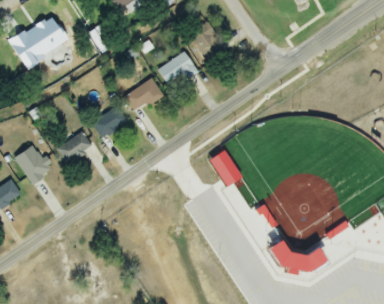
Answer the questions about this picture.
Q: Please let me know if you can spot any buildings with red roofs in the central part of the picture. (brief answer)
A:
Yes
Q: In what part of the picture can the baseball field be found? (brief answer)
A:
right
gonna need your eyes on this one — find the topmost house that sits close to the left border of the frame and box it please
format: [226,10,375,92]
[8,17,64,68]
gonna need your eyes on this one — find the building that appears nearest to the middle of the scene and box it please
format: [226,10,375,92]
[210,149,244,188]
